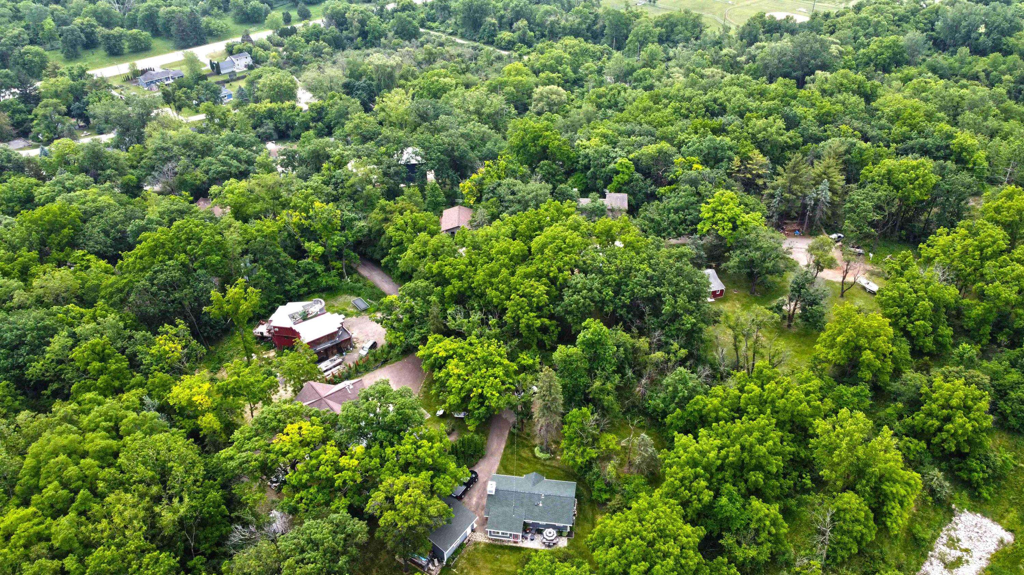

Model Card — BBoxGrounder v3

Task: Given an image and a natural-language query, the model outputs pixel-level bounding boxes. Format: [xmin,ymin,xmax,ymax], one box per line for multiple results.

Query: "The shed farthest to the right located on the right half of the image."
[700,273,726,298]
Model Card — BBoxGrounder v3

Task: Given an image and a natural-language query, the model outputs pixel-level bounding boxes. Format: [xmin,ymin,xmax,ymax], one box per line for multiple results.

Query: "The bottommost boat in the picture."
[857,274,877,291]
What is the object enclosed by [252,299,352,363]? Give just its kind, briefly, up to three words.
house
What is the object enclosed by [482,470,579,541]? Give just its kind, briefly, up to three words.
building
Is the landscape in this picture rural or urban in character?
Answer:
rural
